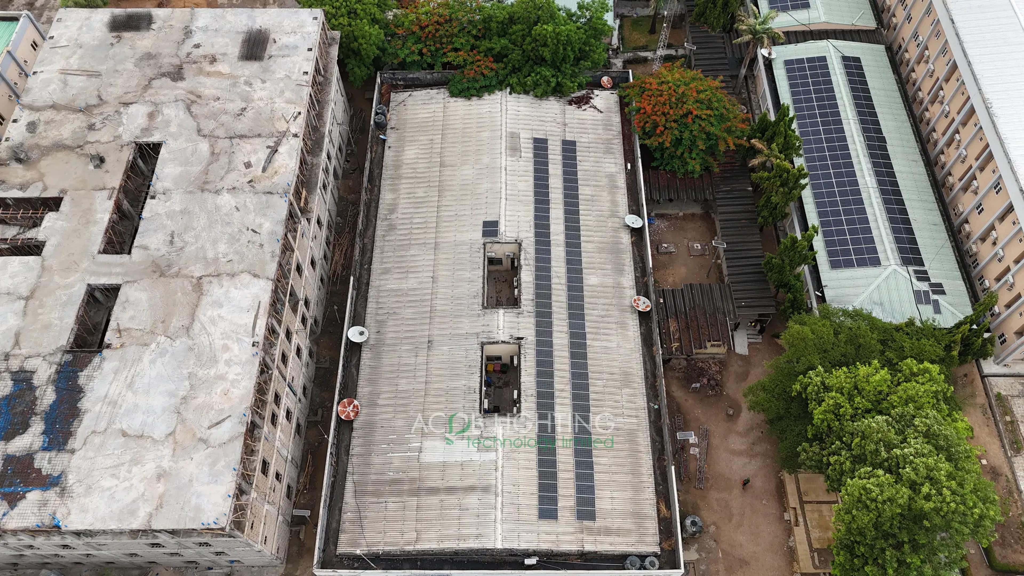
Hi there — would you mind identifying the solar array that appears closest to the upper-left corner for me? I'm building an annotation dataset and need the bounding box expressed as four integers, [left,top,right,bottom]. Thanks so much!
[482,220,499,239]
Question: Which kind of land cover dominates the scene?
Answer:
buildings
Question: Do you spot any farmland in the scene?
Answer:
No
